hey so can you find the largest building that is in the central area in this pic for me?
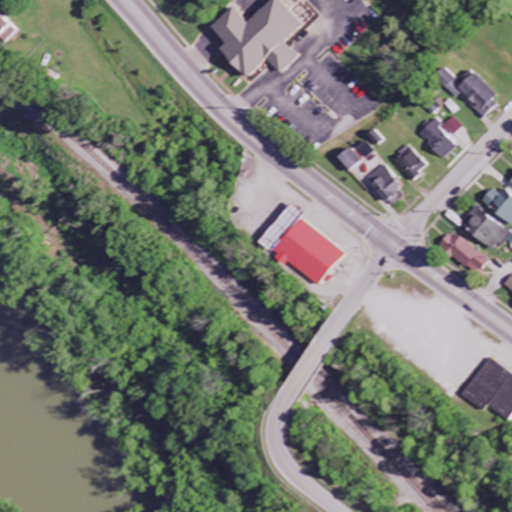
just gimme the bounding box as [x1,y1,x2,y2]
[272,218,343,284]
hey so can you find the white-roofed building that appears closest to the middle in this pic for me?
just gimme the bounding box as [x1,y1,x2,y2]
[260,206,304,249]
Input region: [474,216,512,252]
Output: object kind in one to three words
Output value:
house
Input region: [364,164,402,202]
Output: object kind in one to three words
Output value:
house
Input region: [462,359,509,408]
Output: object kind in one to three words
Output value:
building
